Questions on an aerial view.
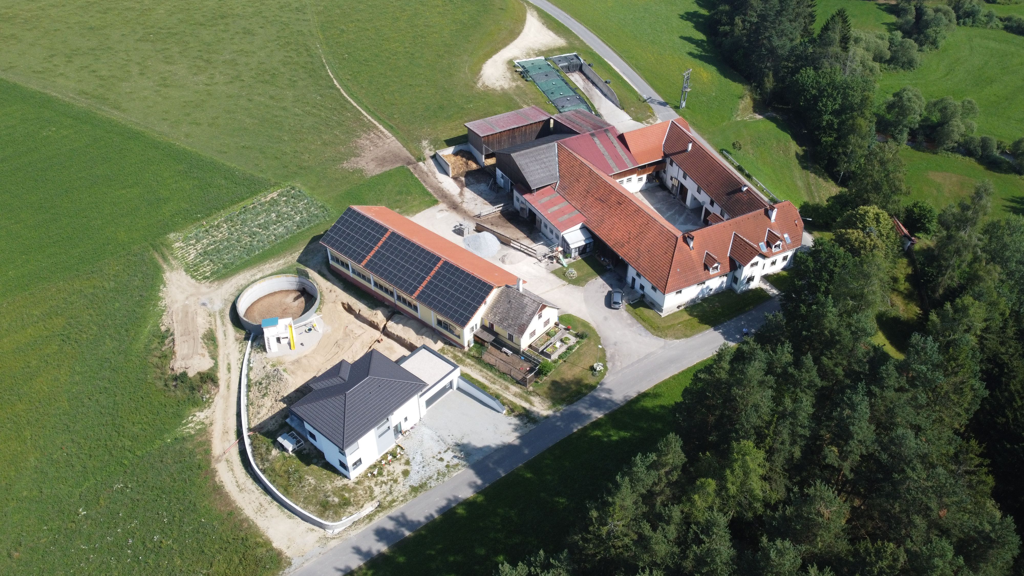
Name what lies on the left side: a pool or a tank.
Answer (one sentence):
Looking on the left side, you will find a tank.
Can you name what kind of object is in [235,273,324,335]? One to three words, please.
storage tank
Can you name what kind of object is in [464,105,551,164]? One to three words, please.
barn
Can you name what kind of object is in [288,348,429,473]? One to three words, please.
house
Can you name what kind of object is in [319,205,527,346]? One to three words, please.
shed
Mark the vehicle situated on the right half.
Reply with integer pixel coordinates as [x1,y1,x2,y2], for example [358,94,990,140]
[611,288,624,308]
